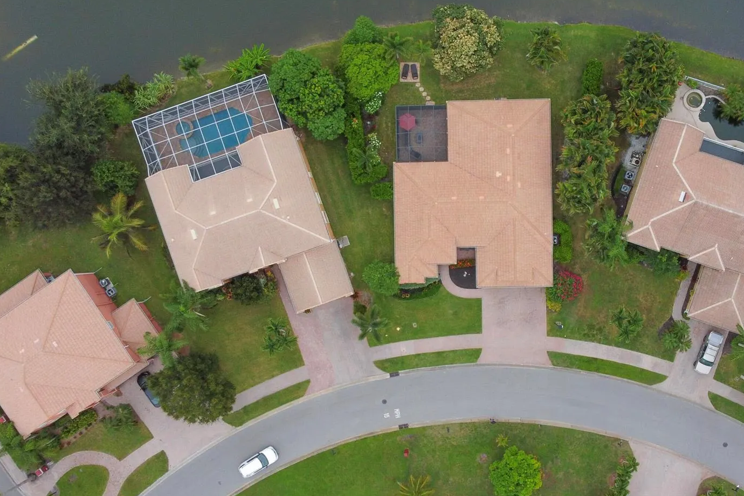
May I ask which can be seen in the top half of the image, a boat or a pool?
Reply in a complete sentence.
It is a pool that can be seen in the top half of the image.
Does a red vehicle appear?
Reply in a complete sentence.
No, there is no red vehicle in the image.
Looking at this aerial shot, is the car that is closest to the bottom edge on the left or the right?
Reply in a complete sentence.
The car that is closest to the bottom edge sits on the left side.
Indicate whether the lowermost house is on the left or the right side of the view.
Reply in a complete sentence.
It is on the left.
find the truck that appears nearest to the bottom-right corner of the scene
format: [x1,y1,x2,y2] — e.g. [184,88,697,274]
[693,330,725,374]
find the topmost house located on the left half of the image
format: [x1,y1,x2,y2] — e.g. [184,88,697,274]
[144,127,355,315]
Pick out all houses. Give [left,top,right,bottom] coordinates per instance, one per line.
[392,98,554,289]
[144,127,355,315]
[0,267,171,440]
[623,118,744,332]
